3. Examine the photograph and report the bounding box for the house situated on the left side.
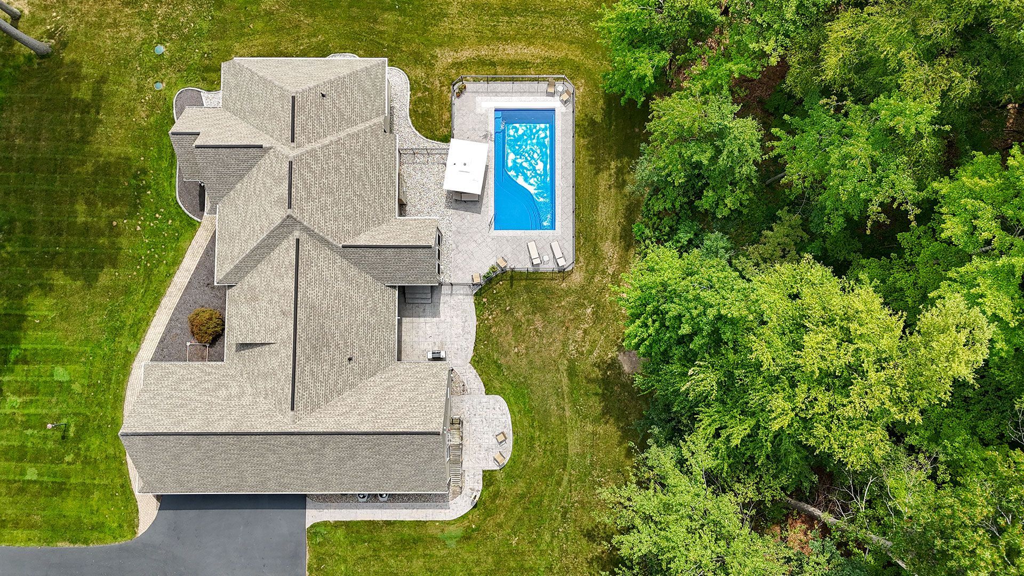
[119,57,454,497]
